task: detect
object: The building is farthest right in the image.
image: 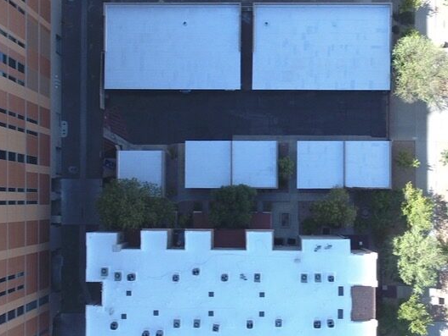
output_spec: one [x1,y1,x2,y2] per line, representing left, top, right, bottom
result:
[343,140,391,189]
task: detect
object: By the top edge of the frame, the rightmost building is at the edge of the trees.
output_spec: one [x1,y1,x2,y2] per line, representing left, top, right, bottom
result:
[253,2,391,94]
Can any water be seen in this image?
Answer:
No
